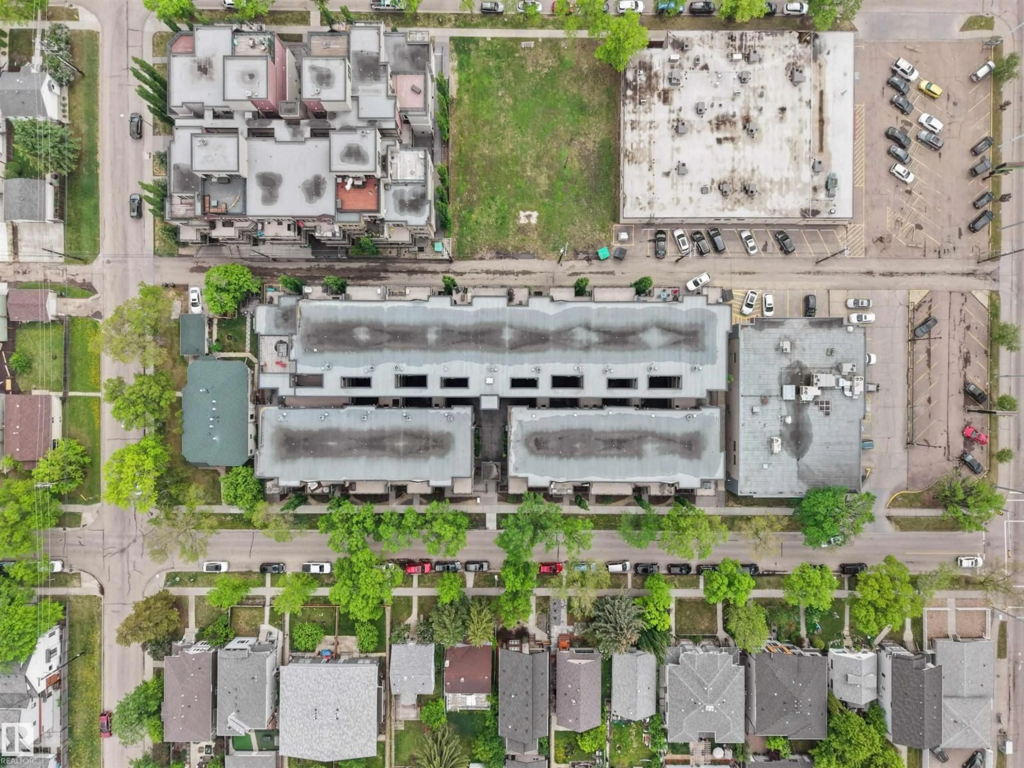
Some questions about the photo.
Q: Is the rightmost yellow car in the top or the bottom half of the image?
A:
top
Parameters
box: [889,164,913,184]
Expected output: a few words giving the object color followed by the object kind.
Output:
white car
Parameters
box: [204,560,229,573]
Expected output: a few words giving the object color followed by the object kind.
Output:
white vehicle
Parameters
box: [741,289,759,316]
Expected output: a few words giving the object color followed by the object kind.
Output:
white car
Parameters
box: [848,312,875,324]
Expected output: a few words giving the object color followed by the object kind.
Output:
white vehicle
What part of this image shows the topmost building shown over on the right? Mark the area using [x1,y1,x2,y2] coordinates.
[621,30,854,225]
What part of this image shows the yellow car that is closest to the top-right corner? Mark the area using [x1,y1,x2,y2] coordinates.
[916,80,943,101]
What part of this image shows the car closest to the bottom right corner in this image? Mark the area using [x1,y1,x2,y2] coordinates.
[964,748,987,768]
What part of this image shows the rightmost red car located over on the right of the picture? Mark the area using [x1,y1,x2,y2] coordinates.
[961,426,989,445]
